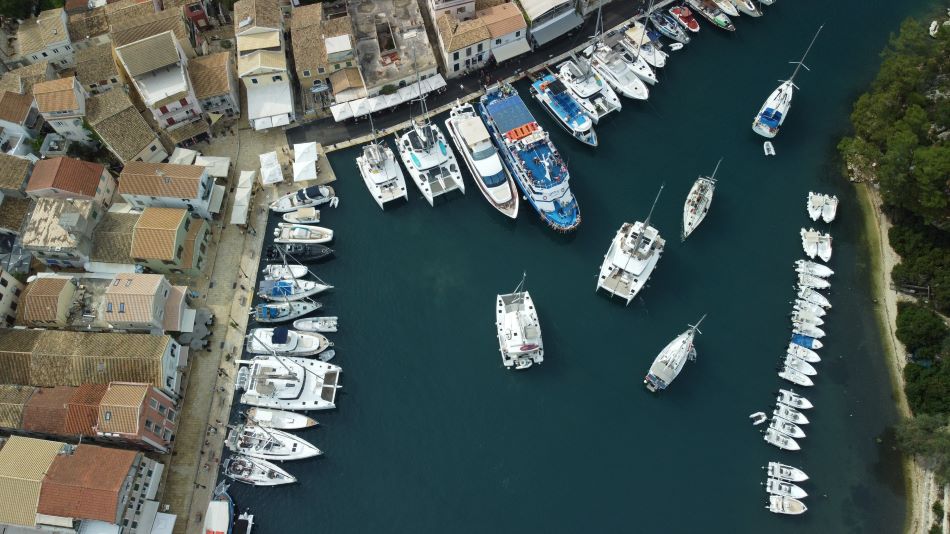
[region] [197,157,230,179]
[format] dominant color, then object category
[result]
white umbrella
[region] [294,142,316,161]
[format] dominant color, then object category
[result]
white umbrella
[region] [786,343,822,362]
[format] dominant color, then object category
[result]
white boat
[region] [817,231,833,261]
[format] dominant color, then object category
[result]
white boat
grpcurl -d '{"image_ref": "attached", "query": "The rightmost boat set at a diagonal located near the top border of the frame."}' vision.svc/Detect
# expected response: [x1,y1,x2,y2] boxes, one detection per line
[753,24,830,140]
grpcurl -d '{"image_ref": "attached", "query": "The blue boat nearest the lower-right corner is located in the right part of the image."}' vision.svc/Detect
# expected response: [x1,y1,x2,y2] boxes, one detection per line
[788,333,824,350]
